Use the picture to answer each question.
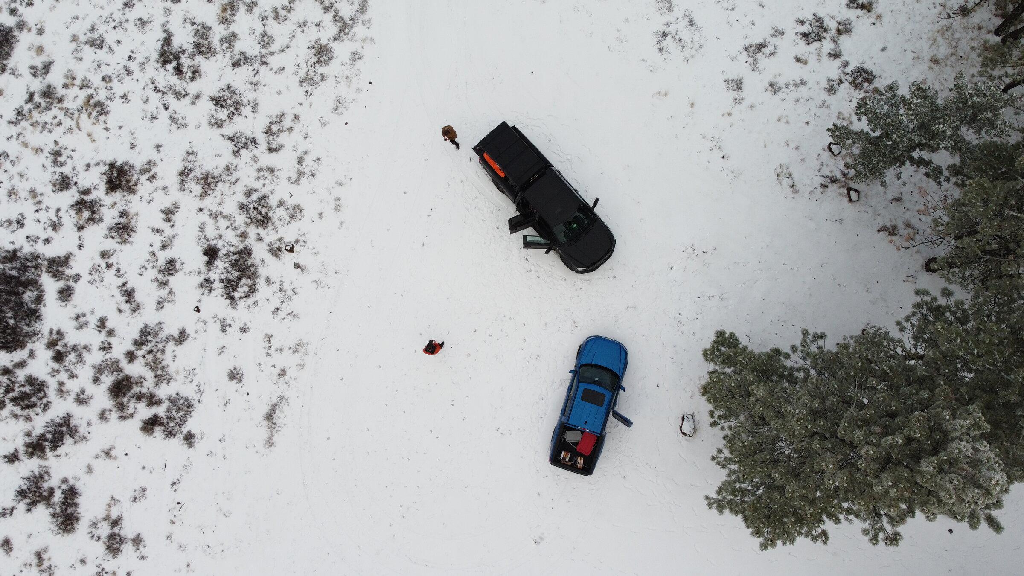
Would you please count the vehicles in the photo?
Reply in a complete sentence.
In total, 2 vehicles can be seen.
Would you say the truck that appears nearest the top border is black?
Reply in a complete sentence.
Yes, the truck that appears nearest the top border appears black.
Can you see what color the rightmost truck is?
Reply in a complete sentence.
The color of the rightmost truck is blue.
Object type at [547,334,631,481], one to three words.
truck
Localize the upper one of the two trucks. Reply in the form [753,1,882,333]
[474,119,616,273]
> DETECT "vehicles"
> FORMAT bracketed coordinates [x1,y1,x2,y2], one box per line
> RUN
[474,119,616,273]
[547,334,631,481]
